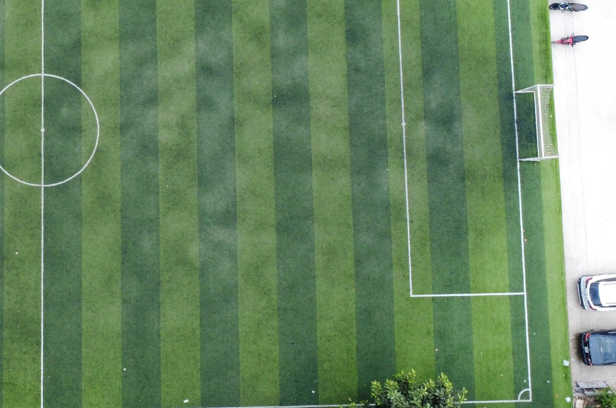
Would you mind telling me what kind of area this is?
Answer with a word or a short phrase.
sports ground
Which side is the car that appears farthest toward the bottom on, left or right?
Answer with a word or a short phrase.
right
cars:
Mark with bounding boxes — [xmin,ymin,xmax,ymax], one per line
[578,328,616,365]
[576,271,616,309]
